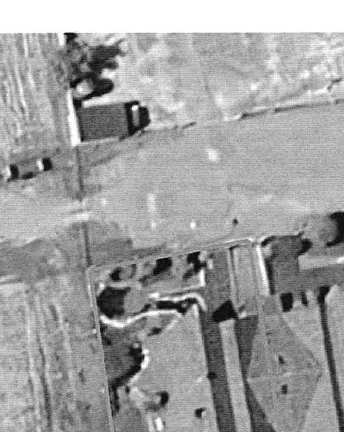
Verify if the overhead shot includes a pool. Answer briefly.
No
